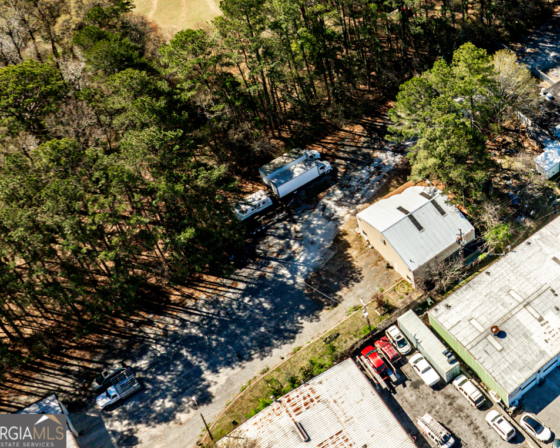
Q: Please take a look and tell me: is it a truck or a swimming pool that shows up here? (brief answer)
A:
truck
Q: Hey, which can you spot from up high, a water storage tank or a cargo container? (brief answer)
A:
cargo container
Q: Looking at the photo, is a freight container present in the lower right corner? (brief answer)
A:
Yes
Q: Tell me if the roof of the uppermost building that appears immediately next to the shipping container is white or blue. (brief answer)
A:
white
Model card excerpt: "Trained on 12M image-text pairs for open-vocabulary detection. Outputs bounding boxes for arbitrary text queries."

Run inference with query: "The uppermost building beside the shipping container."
[354,182,477,285]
